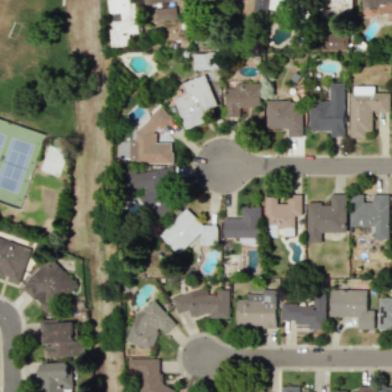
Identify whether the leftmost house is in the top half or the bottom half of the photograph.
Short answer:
bottom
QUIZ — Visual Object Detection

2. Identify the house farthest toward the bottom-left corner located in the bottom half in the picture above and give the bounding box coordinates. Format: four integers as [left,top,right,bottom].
[36,362,72,392]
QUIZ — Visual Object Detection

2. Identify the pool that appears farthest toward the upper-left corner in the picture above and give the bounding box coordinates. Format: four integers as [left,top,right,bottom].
[130,56,153,74]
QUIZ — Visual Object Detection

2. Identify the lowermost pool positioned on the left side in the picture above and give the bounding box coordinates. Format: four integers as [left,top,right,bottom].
[136,283,154,306]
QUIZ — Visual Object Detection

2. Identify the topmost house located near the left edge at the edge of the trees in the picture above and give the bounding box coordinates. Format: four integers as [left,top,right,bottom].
[0,238,31,283]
